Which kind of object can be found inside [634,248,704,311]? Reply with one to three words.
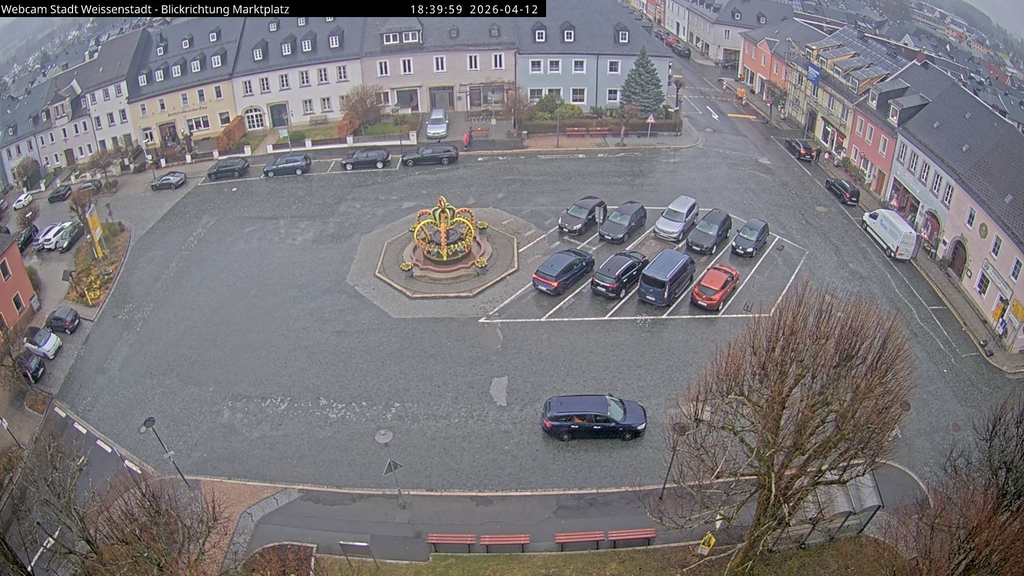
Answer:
vehicle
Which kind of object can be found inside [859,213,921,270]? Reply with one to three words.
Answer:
van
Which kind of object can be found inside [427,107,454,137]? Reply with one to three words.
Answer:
car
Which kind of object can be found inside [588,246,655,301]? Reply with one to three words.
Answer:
car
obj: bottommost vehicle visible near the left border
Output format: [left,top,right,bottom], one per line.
[16,351,51,391]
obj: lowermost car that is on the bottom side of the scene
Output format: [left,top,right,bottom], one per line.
[540,398,649,450]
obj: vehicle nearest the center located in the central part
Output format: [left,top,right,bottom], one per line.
[527,245,601,300]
